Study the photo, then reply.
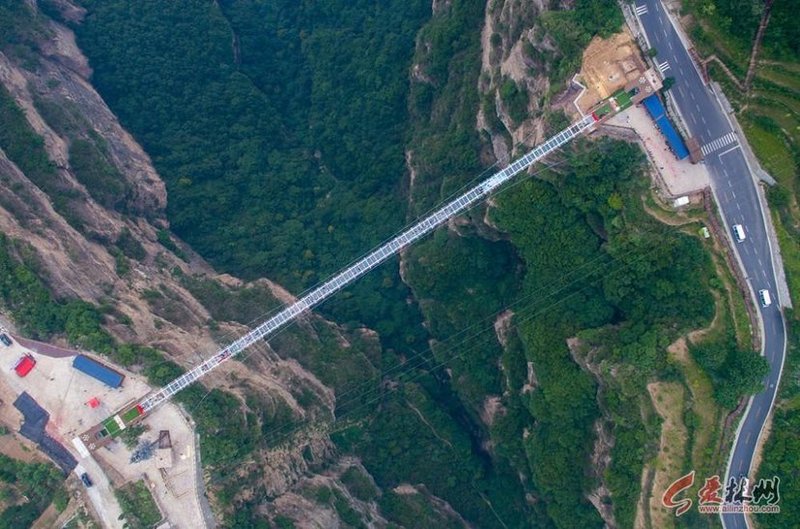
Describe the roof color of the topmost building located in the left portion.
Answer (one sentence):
The roof of the topmost building located in the left portion is blue.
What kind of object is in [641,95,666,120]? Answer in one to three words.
building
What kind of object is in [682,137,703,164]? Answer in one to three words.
building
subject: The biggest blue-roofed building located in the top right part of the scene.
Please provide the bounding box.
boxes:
[652,115,689,161]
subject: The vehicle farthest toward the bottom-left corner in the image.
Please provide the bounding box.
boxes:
[81,470,94,488]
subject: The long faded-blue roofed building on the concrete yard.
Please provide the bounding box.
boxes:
[73,354,128,388]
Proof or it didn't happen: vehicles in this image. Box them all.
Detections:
[732,223,744,242]
[0,333,15,346]
[759,288,770,307]
[737,477,748,498]
[81,470,94,488]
